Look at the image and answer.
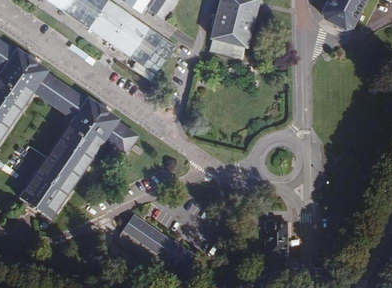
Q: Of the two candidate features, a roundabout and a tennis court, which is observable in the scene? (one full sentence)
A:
It is a roundabout that can be seen here.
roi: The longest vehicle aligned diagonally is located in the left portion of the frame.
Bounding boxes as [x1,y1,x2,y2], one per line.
[68,42,96,64]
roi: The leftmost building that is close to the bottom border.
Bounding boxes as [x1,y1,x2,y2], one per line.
[120,212,202,278]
